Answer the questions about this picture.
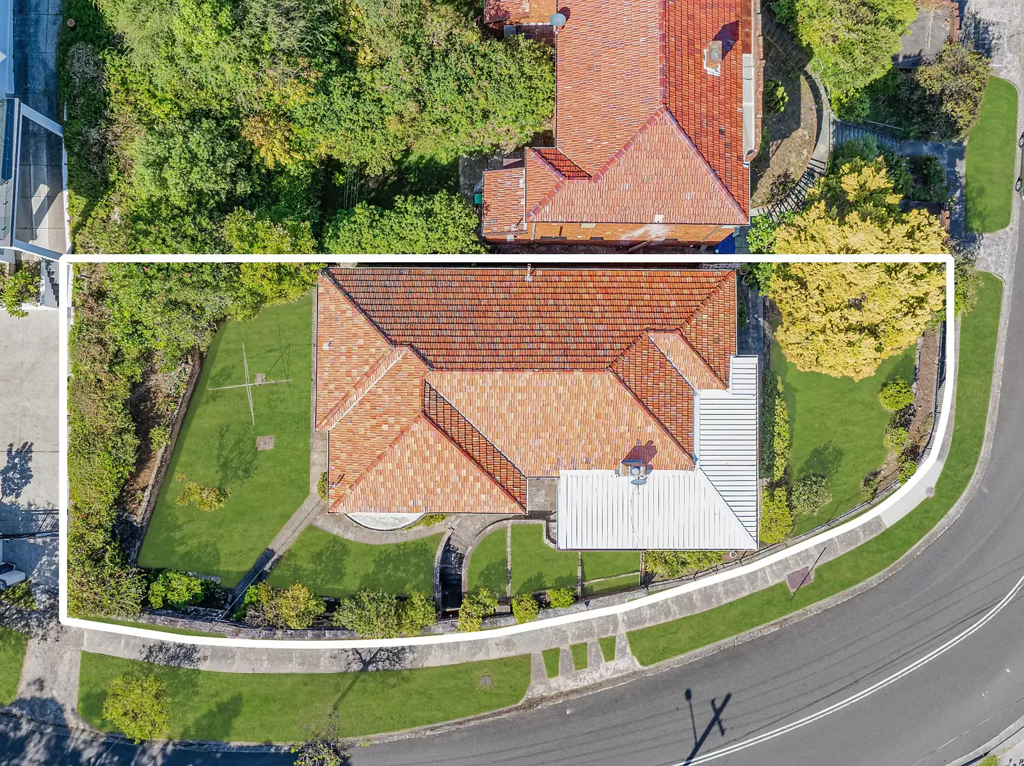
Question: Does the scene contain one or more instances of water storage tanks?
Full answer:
No, there isn't any water storage tank down there.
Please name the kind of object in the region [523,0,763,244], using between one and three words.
house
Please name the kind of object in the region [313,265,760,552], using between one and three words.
house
